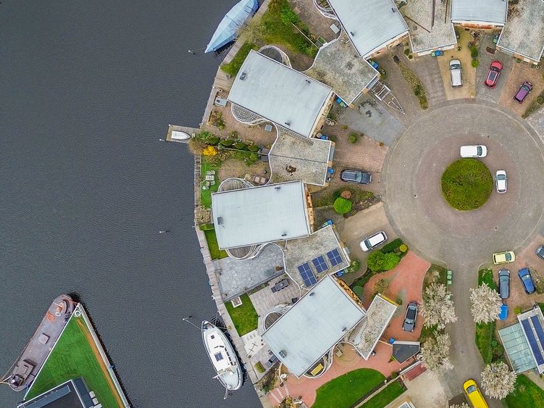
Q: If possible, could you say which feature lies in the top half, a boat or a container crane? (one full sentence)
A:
The feature located in the top half is a boat.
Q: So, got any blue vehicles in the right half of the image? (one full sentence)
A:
Yes, a blue vehicle is visible in the right half of the image.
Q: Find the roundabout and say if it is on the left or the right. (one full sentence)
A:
You can find the roundabout on the right side of the picture.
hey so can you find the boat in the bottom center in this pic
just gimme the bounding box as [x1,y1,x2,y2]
[188,312,241,403]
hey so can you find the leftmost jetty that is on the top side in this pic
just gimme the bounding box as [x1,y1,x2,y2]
[159,123,200,142]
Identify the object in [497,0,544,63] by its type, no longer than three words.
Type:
building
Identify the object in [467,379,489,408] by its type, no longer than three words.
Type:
vehicle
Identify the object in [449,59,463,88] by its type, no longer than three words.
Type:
vehicle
